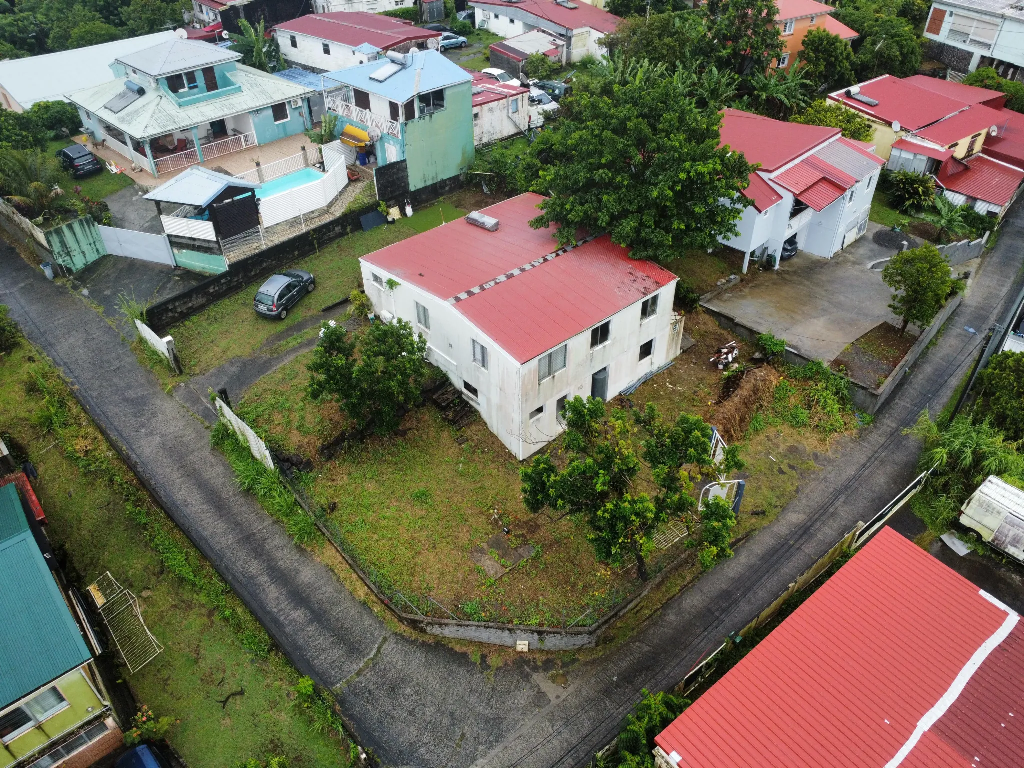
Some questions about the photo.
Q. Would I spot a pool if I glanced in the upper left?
Yes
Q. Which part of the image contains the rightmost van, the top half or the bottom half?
bottom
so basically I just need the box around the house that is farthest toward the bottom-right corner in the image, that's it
[654,525,1024,768]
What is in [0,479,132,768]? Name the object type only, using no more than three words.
house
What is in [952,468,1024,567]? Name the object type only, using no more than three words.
van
